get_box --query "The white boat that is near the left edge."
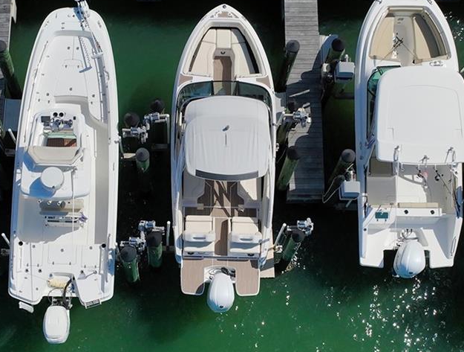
[7,0,121,344]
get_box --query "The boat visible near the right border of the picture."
[353,0,464,280]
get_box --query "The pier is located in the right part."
[284,0,324,203]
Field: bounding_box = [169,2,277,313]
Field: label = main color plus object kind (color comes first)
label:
white boat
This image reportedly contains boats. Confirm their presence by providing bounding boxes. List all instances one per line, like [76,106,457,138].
[353,0,464,280]
[7,0,121,344]
[169,2,277,313]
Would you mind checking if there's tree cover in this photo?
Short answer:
No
